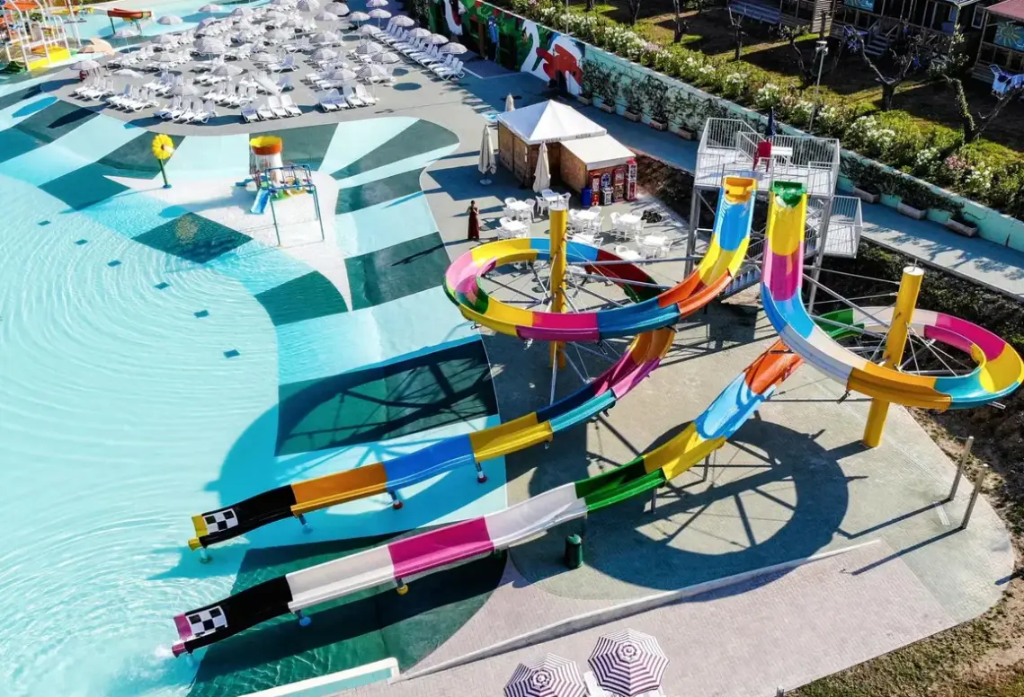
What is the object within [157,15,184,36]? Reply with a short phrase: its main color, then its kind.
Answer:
white umbrella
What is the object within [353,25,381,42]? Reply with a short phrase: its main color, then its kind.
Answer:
white umbrella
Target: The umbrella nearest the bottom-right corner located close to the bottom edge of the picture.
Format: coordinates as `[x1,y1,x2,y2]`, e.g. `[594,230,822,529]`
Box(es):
[584,643,668,697]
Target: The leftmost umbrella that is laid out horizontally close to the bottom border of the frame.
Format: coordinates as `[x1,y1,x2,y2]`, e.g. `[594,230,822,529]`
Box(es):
[504,658,587,697]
